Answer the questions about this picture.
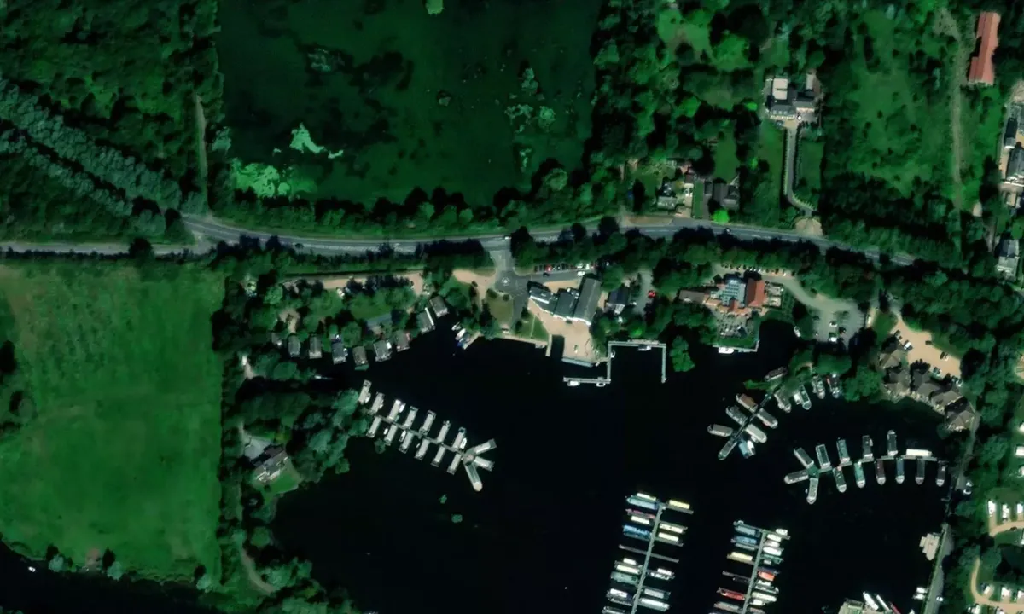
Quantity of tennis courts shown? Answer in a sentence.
No tennis courts are visible.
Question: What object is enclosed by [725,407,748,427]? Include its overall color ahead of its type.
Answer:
gray boat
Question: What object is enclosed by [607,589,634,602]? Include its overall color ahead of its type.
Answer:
white boat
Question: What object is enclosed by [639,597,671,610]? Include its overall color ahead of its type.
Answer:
white boat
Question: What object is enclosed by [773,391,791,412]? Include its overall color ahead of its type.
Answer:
gray boat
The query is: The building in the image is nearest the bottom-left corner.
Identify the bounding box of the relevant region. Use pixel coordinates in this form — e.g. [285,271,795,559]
[252,444,294,488]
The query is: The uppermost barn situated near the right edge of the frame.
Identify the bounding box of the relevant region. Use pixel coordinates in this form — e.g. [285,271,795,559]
[968,11,999,86]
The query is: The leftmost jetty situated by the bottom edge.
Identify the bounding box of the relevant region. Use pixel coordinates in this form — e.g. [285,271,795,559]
[607,505,693,614]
